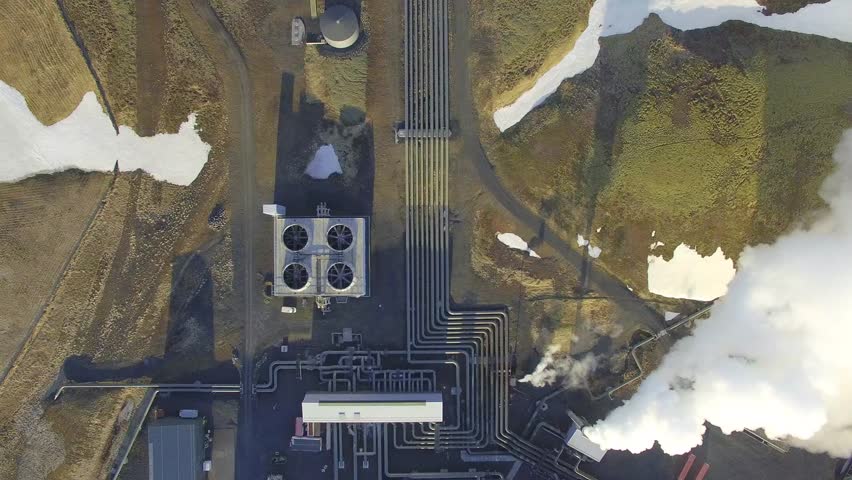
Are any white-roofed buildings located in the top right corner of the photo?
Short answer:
No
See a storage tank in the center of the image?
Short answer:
No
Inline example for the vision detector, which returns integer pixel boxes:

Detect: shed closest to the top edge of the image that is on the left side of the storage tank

[290,16,305,44]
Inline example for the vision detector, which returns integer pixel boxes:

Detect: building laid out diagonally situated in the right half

[563,421,609,463]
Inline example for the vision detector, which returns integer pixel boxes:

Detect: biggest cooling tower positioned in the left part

[272,201,370,312]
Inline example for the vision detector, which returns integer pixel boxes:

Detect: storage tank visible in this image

[305,4,362,47]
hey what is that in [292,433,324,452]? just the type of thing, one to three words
building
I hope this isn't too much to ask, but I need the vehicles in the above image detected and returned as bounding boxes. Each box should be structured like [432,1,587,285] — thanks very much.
[280,306,297,314]
[267,473,283,480]
[180,408,200,418]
